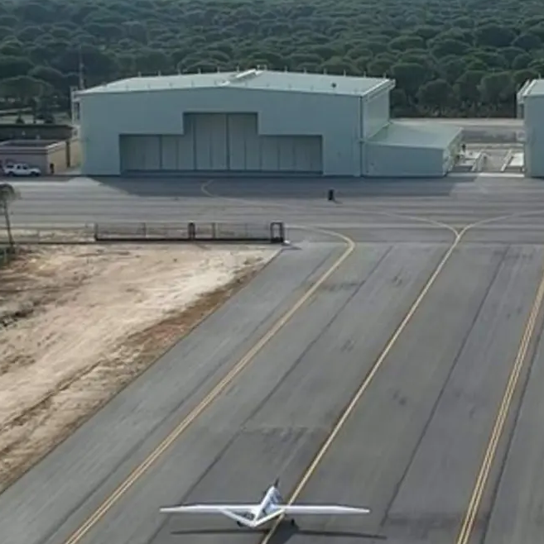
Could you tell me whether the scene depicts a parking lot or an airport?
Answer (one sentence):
This image shows an airport.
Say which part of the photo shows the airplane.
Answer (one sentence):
Look in the bottom portion of the view to spot the airplane.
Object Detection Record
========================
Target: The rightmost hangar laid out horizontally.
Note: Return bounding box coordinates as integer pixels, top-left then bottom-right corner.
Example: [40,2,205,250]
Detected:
[70,65,464,177]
